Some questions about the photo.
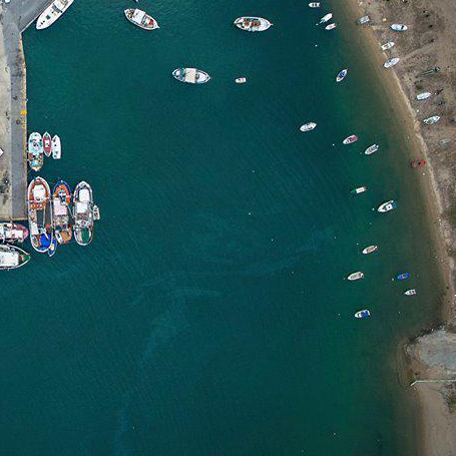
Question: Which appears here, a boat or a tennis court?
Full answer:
There is a boat in the scene.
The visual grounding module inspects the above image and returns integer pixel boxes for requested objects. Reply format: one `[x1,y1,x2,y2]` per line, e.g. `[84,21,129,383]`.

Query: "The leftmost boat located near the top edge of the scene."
[37,0,73,29]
